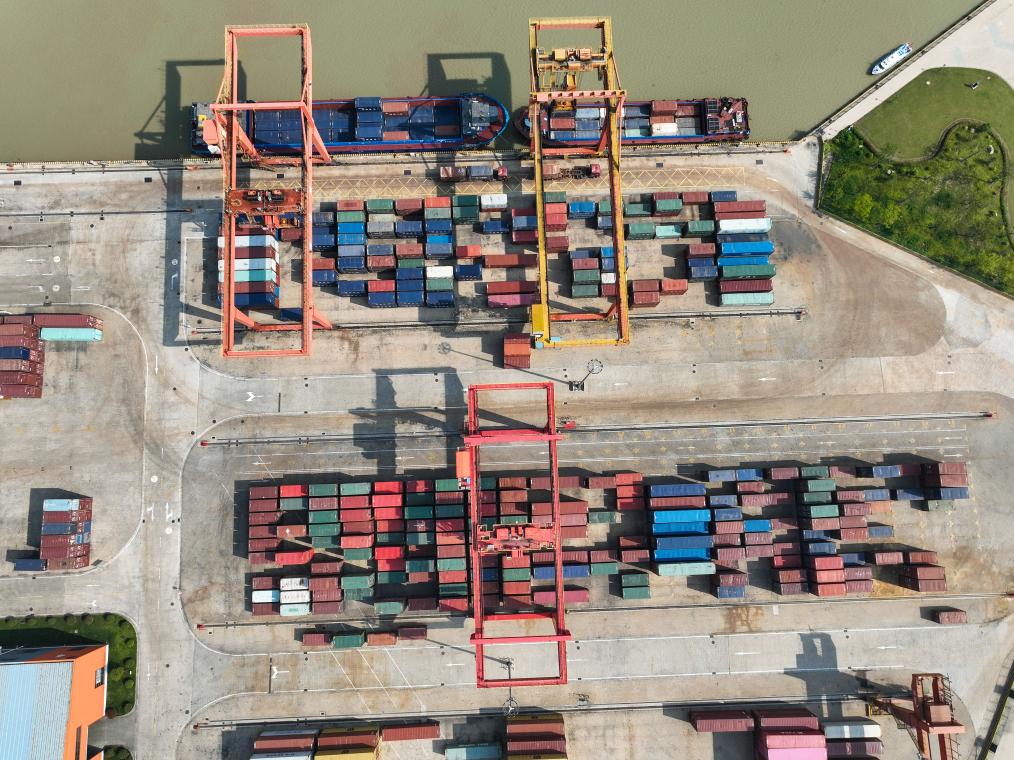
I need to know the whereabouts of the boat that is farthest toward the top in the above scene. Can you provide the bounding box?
[872,37,917,72]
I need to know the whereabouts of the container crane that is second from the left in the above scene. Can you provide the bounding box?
[456,382,571,690]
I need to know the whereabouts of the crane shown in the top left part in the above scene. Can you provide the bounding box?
[203,22,337,360]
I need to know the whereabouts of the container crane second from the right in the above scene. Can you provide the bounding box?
[525,15,631,355]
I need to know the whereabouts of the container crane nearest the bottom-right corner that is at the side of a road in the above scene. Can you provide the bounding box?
[868,670,967,760]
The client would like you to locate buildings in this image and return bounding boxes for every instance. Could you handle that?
[0,644,110,760]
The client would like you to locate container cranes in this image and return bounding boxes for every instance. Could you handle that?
[868,670,967,760]
[203,22,337,360]
[456,382,571,690]
[525,15,631,355]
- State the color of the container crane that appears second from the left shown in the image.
red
